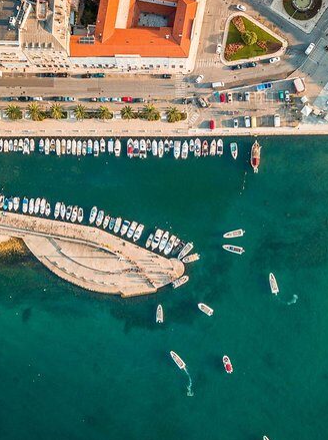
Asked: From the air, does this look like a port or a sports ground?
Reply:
port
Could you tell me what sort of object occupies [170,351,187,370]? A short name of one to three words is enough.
boat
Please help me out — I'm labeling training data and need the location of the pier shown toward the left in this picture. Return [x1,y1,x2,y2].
[0,210,185,297]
